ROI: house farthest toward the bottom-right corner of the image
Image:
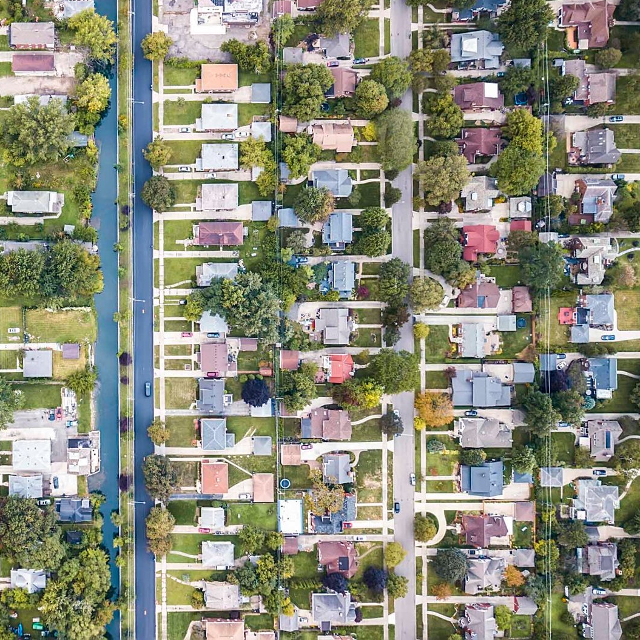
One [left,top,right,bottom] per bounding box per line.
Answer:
[584,599,622,640]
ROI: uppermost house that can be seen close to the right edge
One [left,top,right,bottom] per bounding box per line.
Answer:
[556,0,616,52]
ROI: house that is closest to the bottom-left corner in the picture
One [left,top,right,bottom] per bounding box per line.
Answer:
[10,568,45,595]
